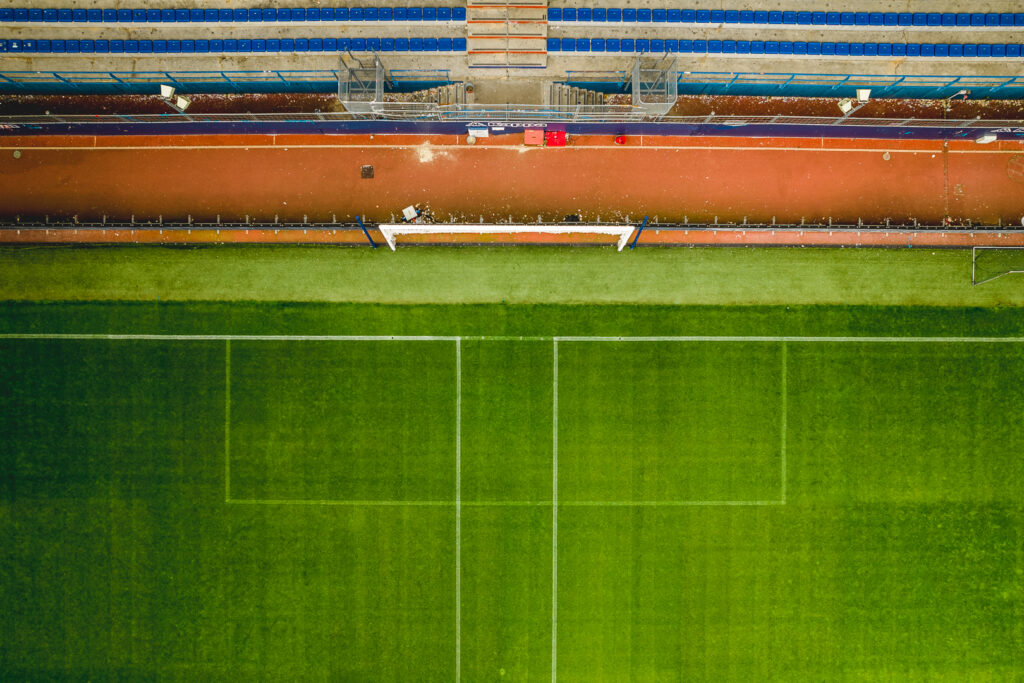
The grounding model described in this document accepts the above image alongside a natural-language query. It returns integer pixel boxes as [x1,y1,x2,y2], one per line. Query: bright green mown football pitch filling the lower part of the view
[0,301,1024,683]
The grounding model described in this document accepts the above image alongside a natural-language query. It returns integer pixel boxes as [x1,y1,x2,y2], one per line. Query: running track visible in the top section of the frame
[0,134,1024,251]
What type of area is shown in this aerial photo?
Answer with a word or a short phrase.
sports ground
